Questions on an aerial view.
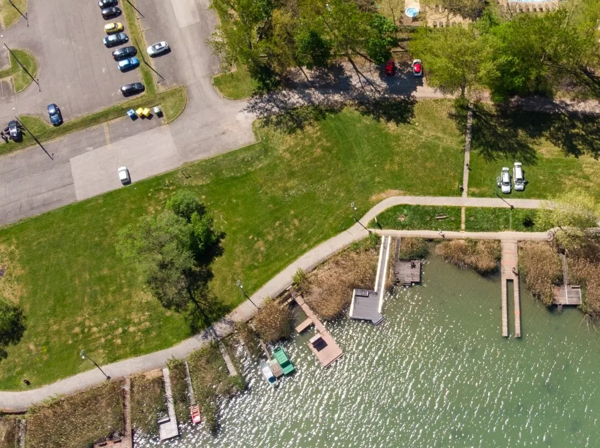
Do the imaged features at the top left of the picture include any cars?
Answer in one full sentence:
Yes, the scene does show a car at the top left of the picture.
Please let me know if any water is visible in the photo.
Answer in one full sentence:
Yes, the picture does contain water.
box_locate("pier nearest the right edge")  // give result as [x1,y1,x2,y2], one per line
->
[553,252,582,313]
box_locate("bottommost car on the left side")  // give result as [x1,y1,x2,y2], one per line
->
[116,163,132,189]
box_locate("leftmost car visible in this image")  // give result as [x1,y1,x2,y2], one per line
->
[0,117,25,144]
